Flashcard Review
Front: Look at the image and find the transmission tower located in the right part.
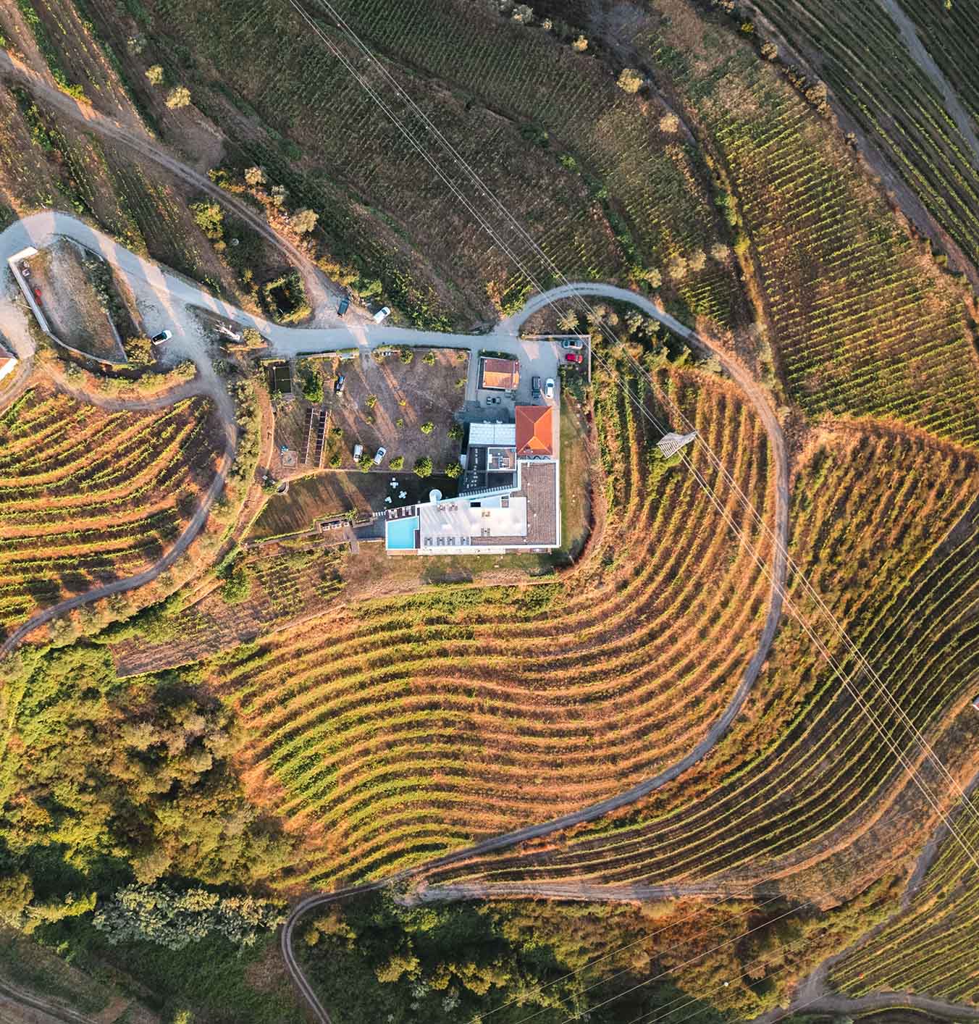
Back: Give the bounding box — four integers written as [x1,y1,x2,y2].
[647,428,701,464]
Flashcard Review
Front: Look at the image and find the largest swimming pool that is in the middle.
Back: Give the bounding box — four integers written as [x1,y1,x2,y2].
[389,516,417,547]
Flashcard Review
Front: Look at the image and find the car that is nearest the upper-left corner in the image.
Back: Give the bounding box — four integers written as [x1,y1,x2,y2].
[151,329,171,344]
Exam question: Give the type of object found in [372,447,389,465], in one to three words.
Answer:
car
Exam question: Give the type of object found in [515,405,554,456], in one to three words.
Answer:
house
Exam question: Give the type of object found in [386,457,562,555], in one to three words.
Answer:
building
